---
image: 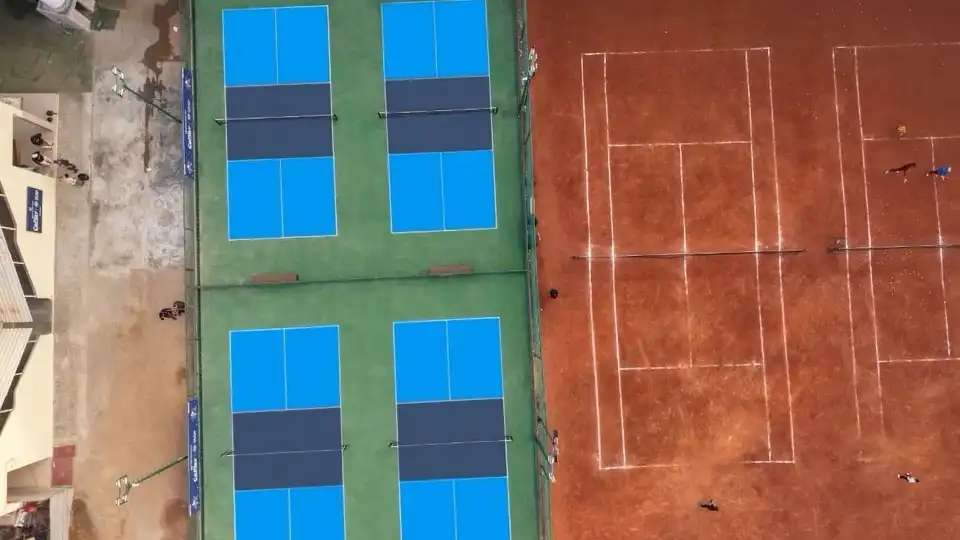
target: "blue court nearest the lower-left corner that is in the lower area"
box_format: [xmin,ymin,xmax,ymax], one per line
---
[230,326,346,540]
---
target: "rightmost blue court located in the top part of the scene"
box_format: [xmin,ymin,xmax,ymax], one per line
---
[382,0,498,233]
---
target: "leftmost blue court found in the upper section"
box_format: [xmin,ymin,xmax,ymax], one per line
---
[222,6,337,241]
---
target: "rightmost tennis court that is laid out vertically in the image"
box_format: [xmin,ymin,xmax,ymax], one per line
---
[831,41,960,461]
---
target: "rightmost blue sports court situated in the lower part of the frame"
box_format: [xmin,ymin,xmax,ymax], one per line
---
[392,318,511,540]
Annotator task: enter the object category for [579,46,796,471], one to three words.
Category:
tennis court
